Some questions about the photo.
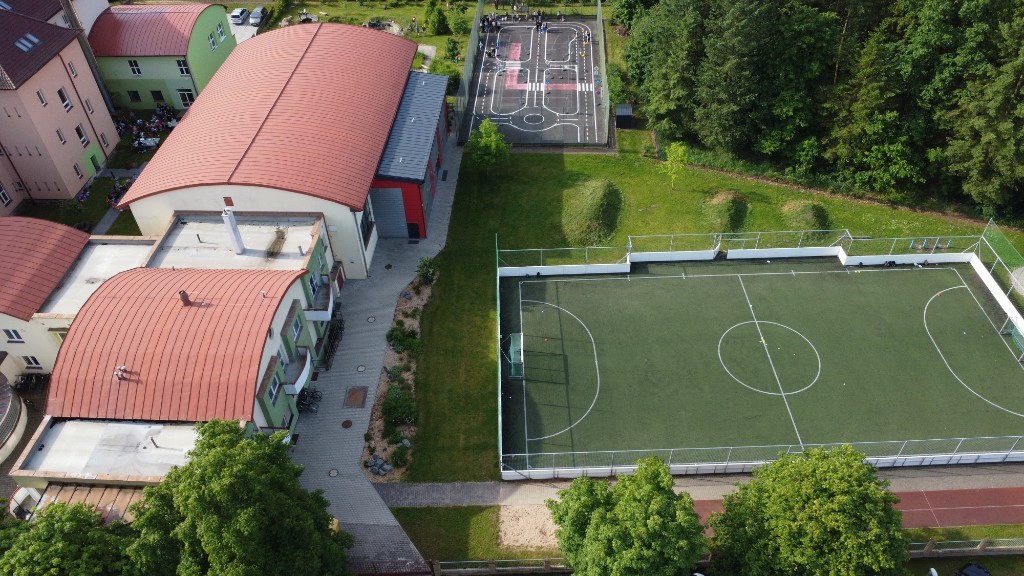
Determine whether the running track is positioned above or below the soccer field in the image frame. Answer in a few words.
below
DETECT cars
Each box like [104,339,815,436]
[248,7,267,24]
[229,11,249,24]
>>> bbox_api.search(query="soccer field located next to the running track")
[499,255,1024,470]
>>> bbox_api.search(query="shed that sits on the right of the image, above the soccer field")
[621,95,640,128]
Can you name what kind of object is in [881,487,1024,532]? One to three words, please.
running track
